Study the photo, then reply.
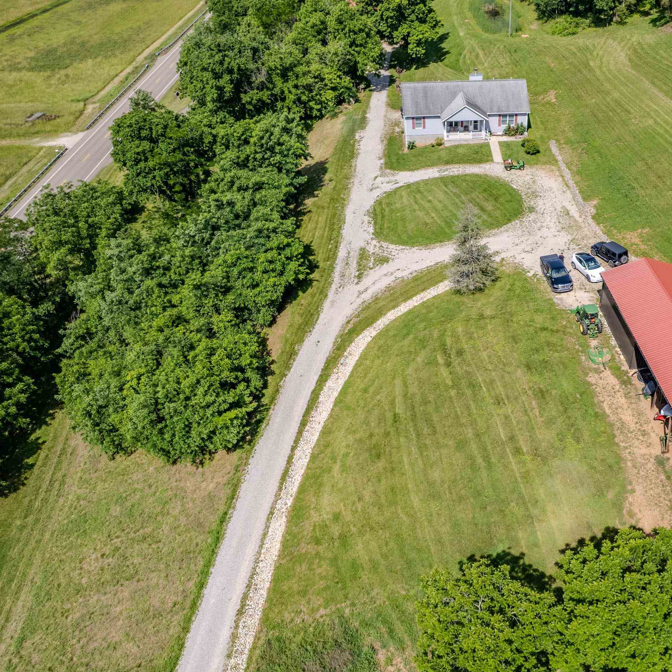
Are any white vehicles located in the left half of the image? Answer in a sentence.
No, I see no white vehicle in the left half of the image.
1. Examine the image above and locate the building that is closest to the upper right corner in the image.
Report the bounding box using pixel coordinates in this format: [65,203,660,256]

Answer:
[402,64,529,148]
